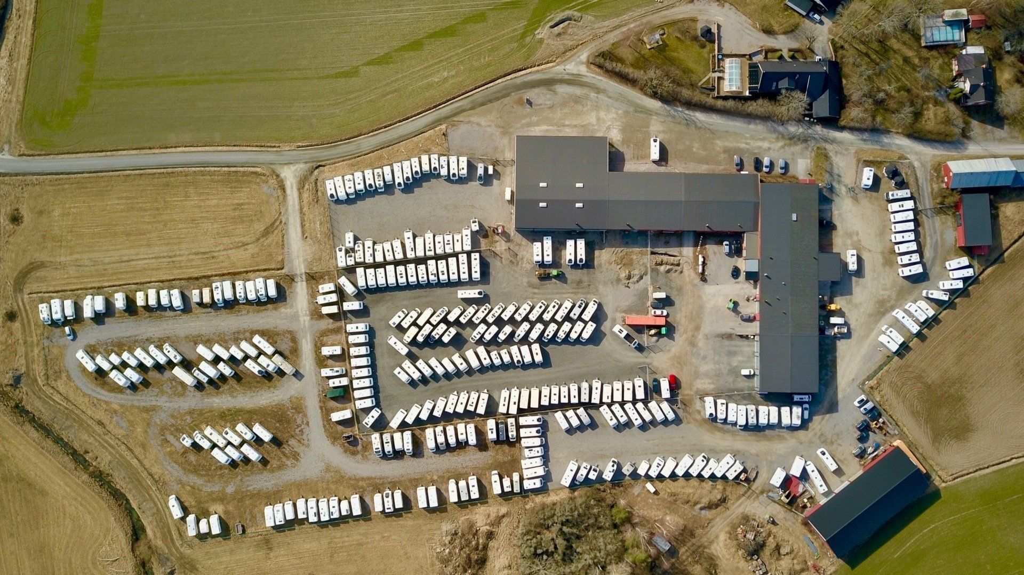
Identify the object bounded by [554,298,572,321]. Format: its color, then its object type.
white camper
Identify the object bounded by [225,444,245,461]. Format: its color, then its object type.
white camper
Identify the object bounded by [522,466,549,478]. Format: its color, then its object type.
white vehicle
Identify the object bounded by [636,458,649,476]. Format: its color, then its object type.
white vehicle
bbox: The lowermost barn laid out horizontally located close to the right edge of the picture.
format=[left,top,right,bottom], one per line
[943,158,1016,188]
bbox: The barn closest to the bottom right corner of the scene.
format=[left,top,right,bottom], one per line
[806,440,930,558]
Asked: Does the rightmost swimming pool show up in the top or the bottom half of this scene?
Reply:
top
